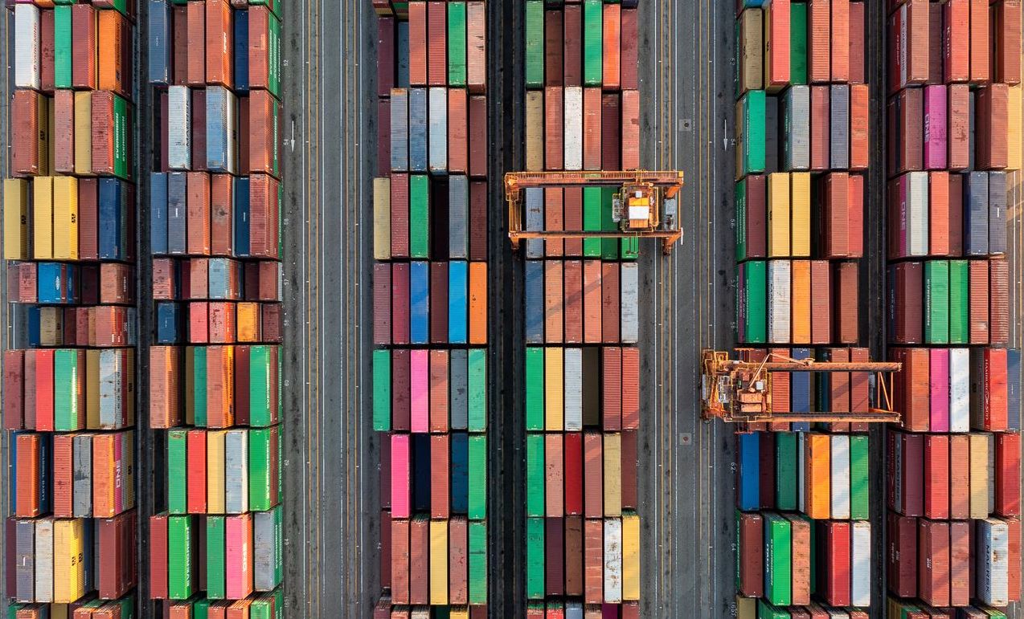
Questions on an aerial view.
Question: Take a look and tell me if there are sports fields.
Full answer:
No, there isn't any sports field down there.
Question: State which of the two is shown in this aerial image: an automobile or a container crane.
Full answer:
This aerial view contains a container crane.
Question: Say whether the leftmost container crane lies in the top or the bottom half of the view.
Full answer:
You can find the leftmost container crane in the top half.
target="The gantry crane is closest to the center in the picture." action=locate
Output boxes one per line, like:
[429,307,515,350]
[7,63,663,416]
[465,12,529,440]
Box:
[502,167,686,256]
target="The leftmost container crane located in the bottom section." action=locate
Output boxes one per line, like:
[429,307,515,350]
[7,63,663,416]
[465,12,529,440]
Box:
[698,346,905,432]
